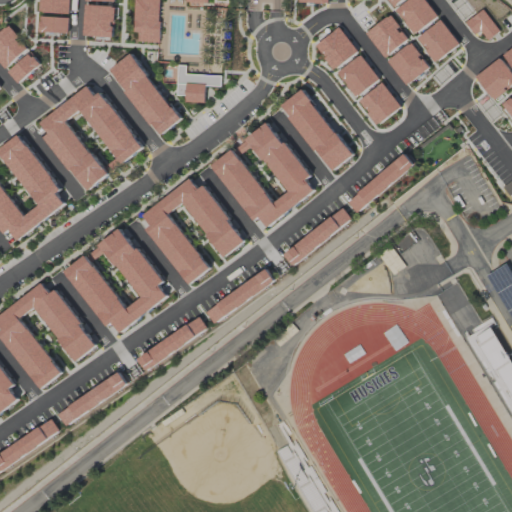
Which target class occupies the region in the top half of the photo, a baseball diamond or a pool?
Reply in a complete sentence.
Looking in the top half of the photo, you will find a pool.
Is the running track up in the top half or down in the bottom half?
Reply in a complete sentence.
Seen from above, the running track lies in the bottom half of the view.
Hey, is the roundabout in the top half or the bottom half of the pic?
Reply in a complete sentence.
The roundabout sits in the top half of the picture.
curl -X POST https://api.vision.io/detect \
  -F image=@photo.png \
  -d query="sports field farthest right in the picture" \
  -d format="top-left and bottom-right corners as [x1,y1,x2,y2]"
[312,340,512,512]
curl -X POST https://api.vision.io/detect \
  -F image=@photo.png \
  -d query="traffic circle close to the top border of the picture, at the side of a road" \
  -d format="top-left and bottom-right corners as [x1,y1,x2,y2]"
[247,18,316,86]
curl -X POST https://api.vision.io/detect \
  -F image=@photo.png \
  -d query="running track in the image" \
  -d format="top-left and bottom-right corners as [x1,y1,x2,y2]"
[290,302,512,512]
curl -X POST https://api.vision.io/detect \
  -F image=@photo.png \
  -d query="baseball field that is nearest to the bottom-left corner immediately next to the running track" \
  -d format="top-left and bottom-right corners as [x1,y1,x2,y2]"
[151,372,284,504]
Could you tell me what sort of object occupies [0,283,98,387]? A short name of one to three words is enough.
building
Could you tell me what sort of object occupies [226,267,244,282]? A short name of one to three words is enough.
vehicle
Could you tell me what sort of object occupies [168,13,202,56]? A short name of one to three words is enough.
swimming pool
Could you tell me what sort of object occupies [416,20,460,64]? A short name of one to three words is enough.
house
